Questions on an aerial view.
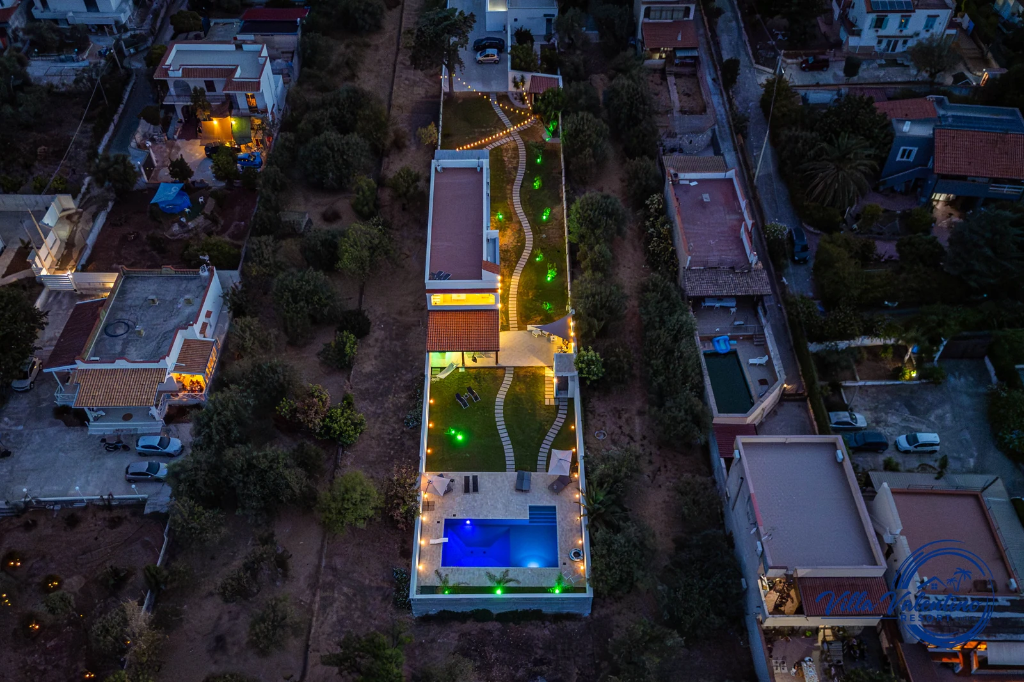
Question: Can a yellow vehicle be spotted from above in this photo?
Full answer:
No, the frame has no yellow vehicle in it.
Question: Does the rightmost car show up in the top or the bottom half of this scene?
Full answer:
It is in the bottom half that the rightmost car appears.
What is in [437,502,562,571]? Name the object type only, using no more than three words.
swimming pool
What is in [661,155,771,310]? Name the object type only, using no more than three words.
house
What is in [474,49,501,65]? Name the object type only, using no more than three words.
car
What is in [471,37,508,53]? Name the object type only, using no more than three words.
car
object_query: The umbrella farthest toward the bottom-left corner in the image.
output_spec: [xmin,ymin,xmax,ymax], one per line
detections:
[419,474,451,512]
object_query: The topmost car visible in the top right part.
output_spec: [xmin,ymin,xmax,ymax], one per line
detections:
[799,57,831,73]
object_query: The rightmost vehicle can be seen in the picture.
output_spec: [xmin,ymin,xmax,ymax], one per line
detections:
[894,433,942,456]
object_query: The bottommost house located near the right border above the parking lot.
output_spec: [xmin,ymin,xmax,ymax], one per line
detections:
[863,95,1024,216]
